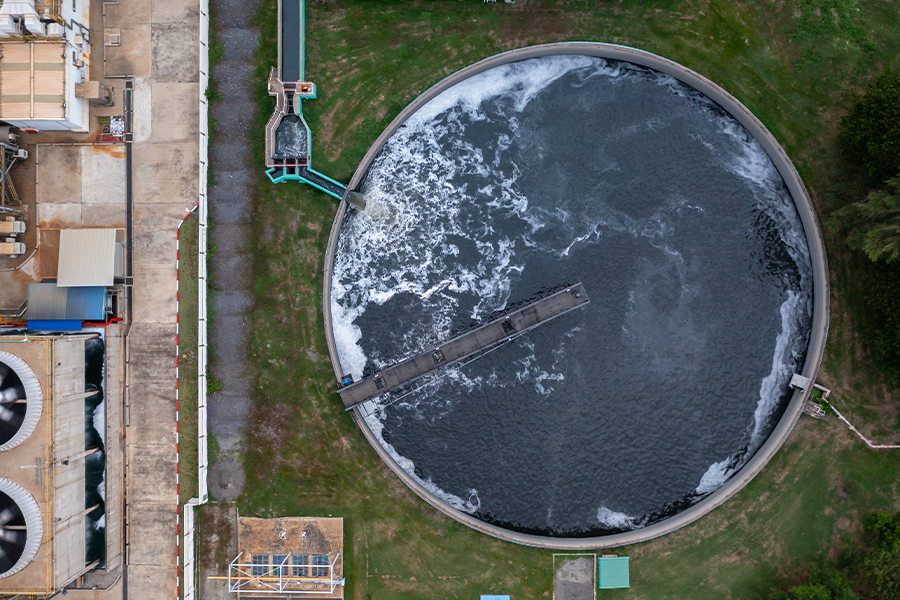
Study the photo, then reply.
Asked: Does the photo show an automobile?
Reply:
No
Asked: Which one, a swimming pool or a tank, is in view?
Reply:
tank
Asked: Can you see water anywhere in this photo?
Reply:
Yes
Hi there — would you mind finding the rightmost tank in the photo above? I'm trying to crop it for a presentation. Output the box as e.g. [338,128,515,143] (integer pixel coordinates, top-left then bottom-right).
[322,40,831,551]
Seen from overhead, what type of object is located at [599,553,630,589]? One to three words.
shed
